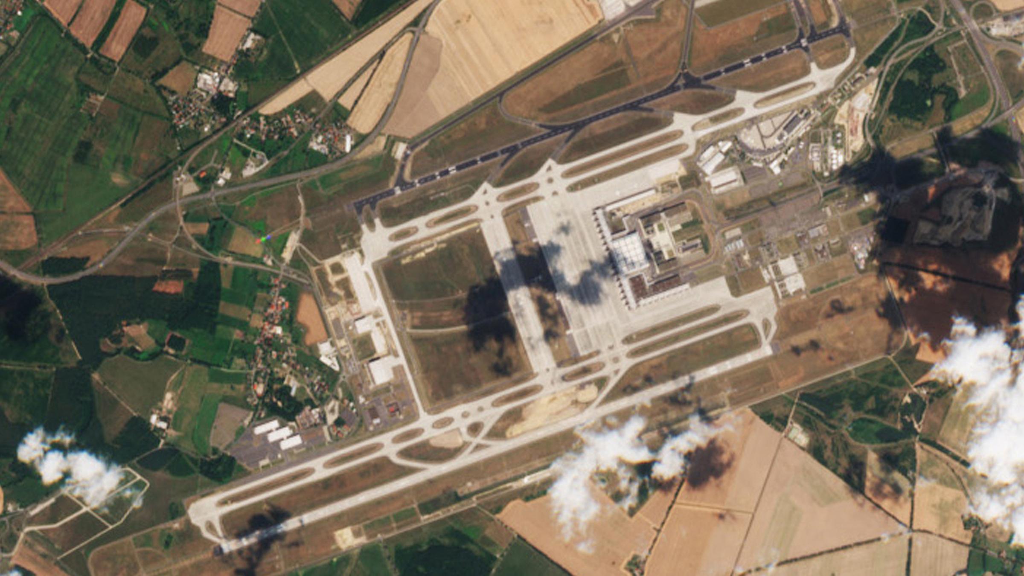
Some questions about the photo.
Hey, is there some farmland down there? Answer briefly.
Yes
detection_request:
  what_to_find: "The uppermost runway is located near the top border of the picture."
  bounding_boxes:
[346,20,857,210]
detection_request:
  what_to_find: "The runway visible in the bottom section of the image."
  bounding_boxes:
[214,343,780,555]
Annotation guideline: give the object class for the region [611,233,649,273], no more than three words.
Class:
building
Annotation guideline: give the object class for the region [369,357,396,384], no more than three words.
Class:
hangar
